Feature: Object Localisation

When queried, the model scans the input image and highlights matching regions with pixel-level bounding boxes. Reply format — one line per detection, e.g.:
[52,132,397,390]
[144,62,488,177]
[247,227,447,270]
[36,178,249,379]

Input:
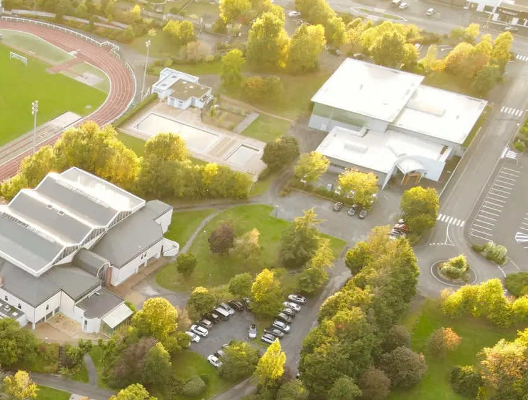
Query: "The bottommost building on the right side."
[300,59,487,189]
